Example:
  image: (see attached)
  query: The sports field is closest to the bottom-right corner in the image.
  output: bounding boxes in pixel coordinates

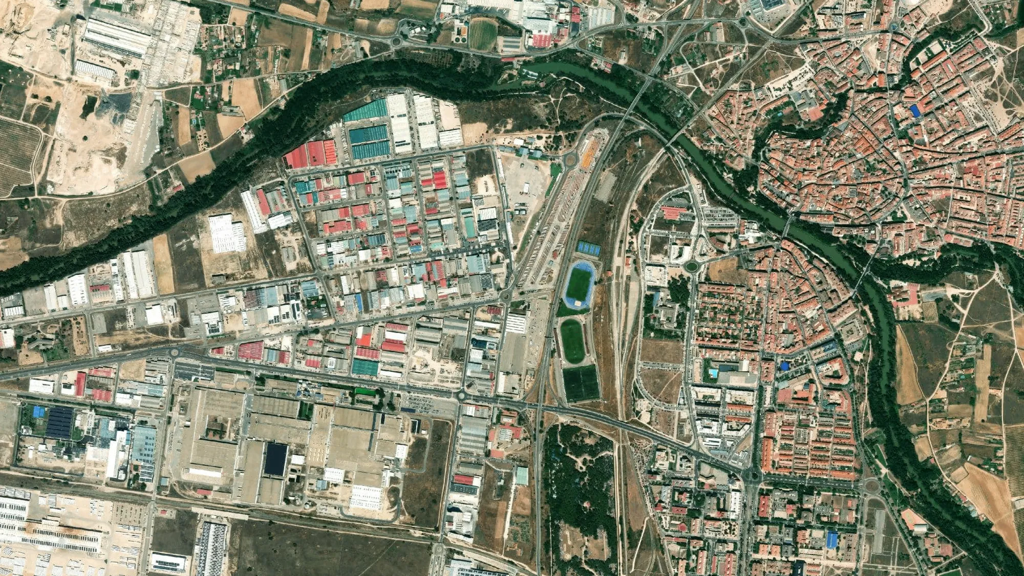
[562,364,602,404]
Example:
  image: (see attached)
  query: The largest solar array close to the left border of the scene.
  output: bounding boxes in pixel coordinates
[46,408,73,437]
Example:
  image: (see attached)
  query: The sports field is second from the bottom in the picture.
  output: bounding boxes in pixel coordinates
[557,316,592,367]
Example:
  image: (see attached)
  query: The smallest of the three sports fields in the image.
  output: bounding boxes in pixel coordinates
[567,267,592,300]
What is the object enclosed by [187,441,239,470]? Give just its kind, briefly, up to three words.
building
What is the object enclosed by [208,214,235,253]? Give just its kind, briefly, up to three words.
building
